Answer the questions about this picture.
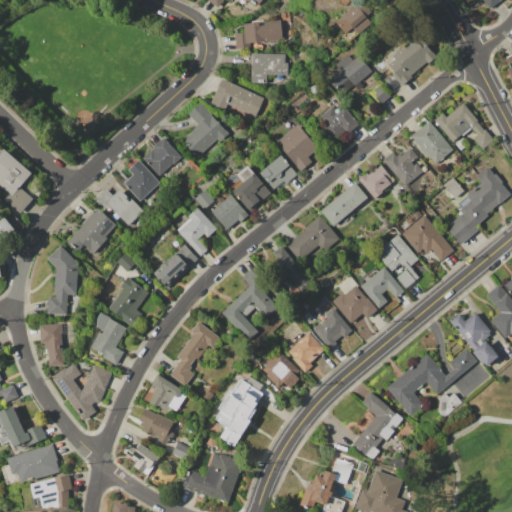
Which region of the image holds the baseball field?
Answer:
top left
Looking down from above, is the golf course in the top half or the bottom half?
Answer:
bottom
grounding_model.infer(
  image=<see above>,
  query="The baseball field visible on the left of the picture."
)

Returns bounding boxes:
[1,4,186,124]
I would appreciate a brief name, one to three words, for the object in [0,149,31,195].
house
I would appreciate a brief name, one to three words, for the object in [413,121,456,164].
house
